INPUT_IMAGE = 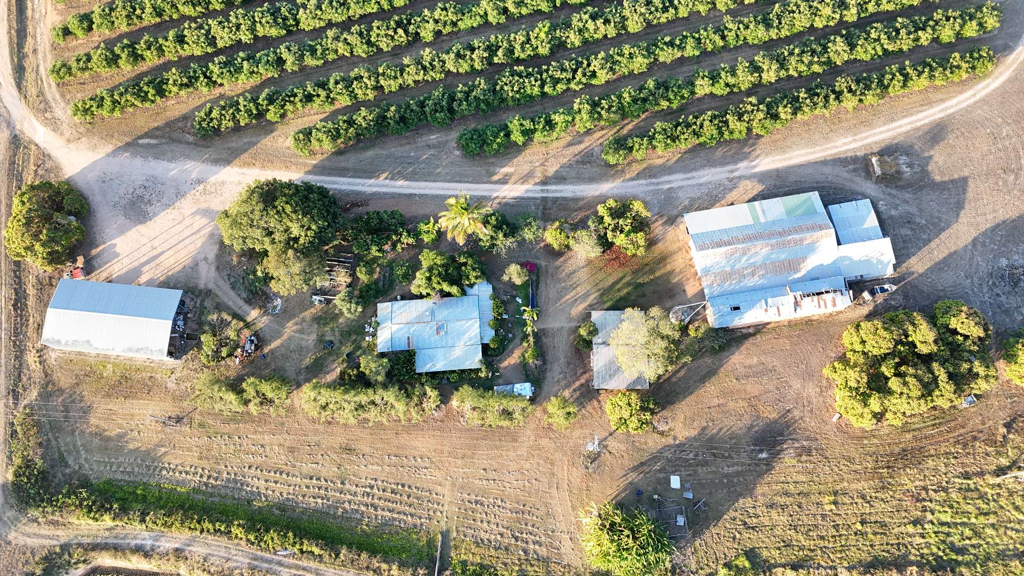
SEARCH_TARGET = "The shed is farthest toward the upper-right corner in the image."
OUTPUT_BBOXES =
[679,191,895,331]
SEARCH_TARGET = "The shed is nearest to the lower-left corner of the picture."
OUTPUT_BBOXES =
[42,278,190,362]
